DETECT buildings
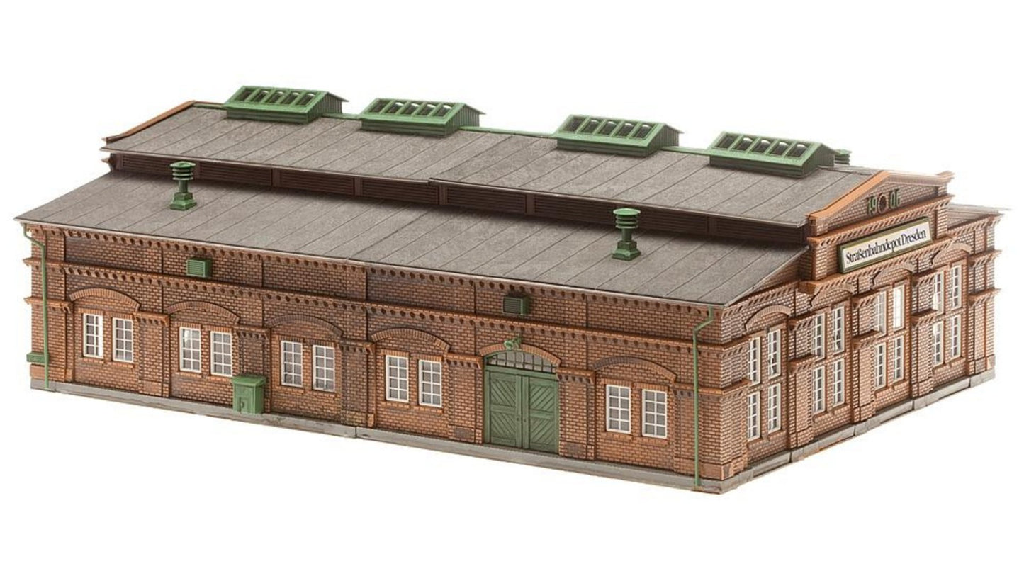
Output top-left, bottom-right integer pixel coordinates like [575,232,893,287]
[14,85,1010,494]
